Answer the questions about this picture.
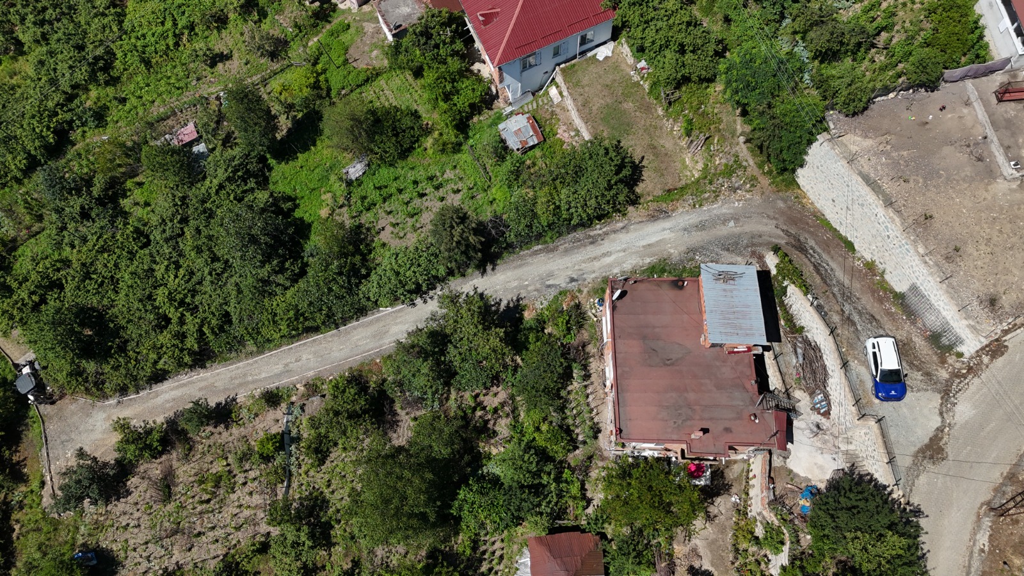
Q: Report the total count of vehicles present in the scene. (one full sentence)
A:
Altogether the scene contains 2 vehicles.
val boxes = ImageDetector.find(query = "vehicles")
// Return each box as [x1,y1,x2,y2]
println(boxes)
[14,357,78,422]
[863,334,912,404]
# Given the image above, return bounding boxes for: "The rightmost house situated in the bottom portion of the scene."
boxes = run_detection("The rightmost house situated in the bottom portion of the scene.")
[604,264,788,464]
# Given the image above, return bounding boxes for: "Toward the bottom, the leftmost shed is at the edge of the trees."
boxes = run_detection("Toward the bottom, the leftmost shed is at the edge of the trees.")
[528,532,604,576]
